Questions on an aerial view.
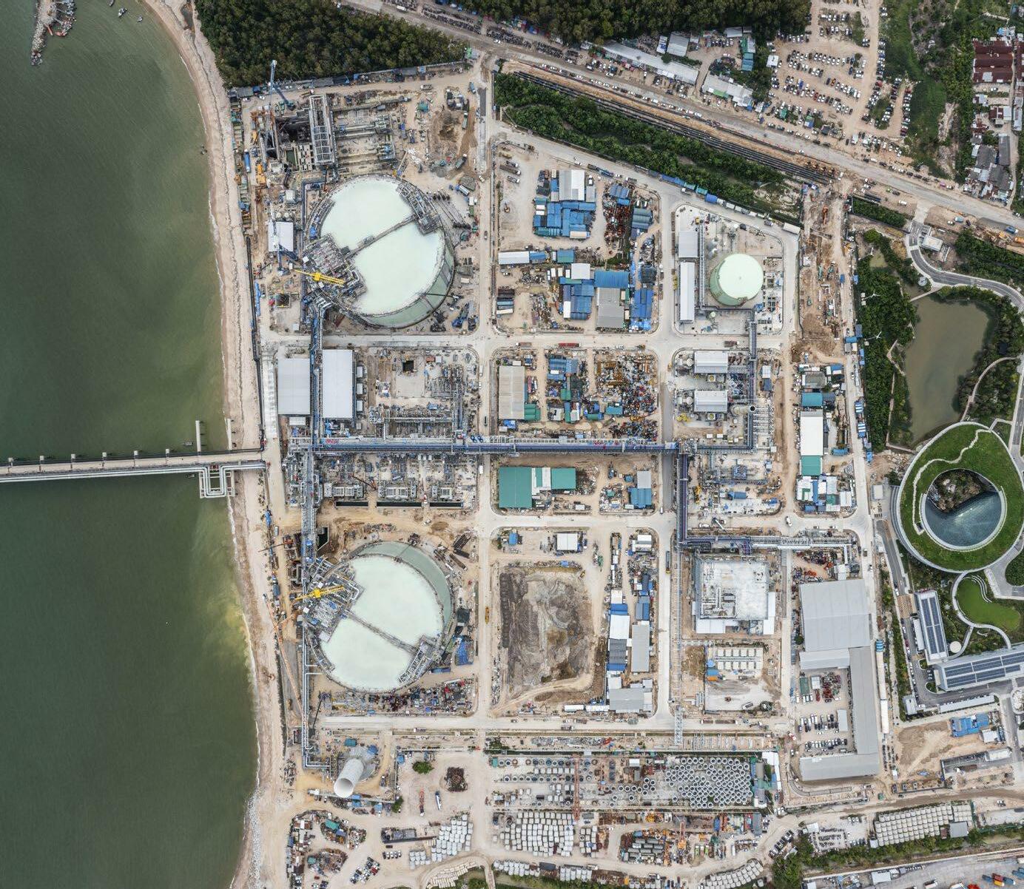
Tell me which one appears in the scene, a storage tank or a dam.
storage tank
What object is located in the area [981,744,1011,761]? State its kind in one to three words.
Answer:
shed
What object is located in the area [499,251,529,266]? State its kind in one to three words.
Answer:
shed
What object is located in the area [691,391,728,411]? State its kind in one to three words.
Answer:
building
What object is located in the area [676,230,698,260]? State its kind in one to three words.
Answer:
building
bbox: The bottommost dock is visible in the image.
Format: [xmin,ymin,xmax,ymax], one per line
[0,448,276,498]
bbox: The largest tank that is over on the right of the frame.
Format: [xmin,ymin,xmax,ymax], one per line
[707,254,765,307]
